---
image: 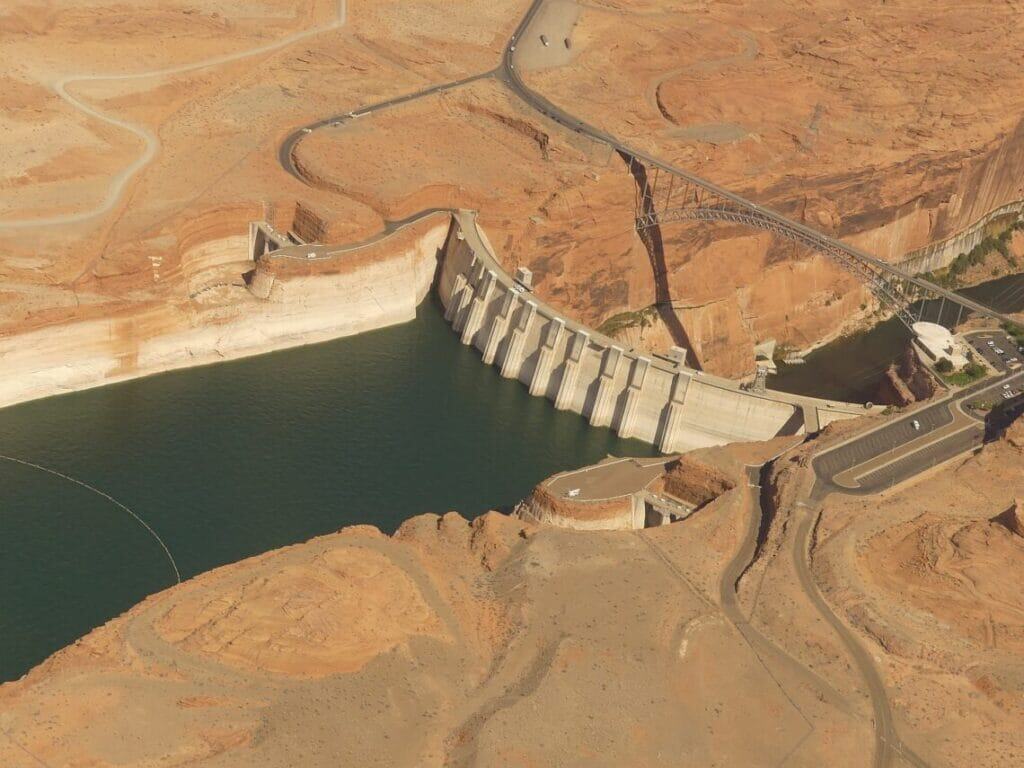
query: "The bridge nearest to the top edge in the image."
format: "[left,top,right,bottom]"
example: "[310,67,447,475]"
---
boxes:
[604,140,1024,337]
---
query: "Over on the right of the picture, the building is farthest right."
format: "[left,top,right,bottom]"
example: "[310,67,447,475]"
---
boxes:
[913,319,969,370]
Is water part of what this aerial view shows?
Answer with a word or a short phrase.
Yes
